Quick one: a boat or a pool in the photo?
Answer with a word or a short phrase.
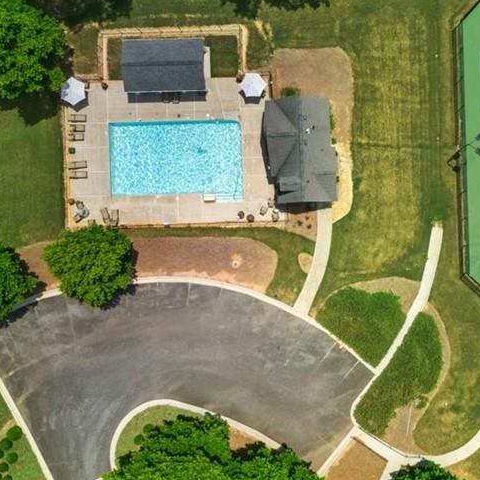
pool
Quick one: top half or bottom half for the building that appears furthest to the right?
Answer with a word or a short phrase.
top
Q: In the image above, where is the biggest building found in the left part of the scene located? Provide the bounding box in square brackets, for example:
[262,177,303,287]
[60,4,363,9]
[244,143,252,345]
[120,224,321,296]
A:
[121,37,211,97]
